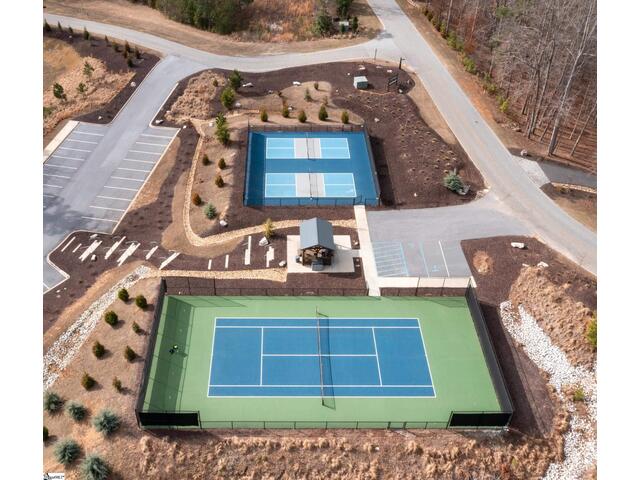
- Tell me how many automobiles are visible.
0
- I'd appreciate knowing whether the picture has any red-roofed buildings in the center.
No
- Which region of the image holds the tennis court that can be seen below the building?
bottom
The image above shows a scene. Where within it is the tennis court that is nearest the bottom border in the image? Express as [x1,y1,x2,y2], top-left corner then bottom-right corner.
[139,295,507,429]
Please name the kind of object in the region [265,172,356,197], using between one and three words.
sports court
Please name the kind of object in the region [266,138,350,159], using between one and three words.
sports court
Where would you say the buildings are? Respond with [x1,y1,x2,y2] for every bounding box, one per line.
[299,216,336,263]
